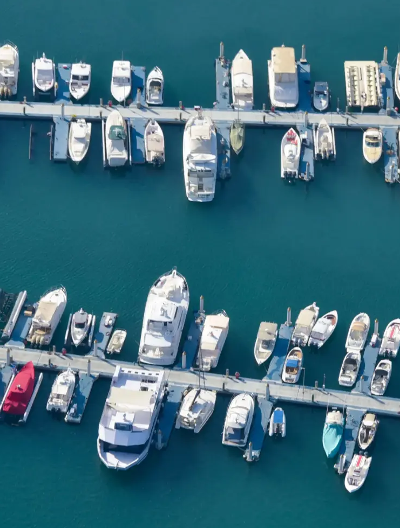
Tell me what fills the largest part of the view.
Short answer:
water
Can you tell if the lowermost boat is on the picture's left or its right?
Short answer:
right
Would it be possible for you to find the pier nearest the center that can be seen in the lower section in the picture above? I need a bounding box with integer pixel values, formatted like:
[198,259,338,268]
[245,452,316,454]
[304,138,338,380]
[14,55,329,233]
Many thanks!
[180,313,205,369]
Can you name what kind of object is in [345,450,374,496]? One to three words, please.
boat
